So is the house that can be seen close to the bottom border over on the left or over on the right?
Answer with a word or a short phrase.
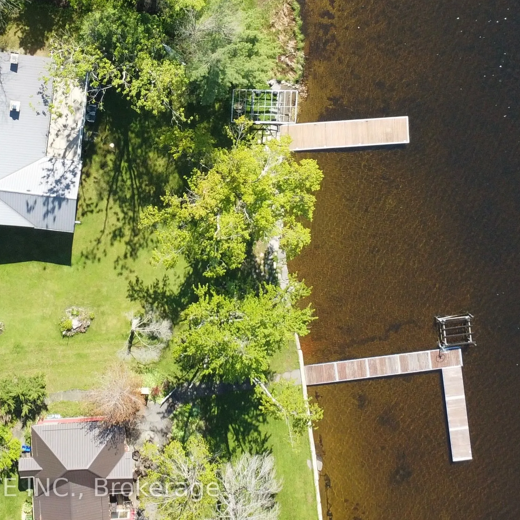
left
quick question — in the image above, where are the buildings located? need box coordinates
[19,417,135,520]
[0,47,90,235]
